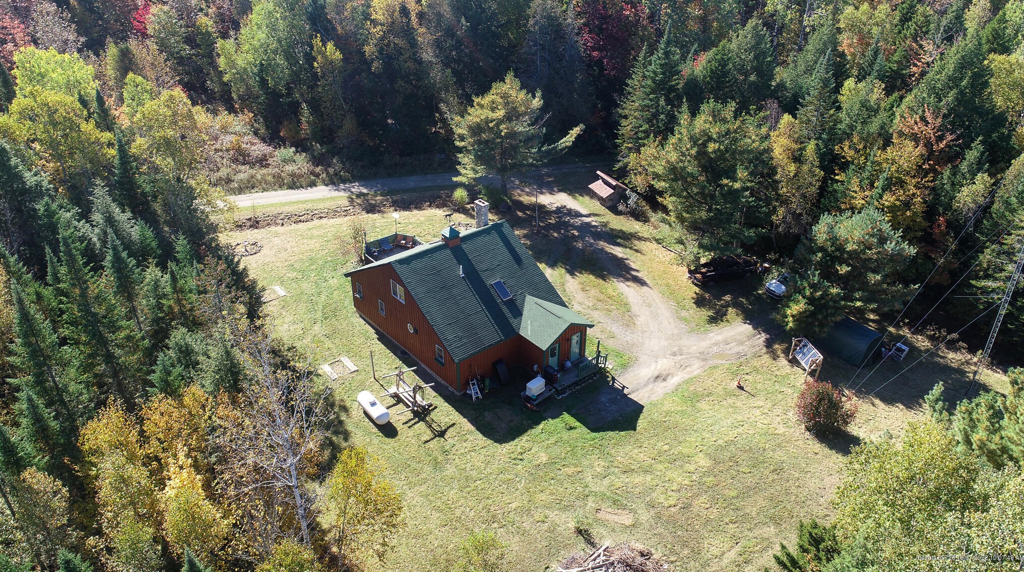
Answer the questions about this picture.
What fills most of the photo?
trees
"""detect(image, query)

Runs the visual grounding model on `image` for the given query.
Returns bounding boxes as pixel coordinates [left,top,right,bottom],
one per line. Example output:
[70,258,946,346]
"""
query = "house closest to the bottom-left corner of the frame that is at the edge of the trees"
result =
[343,199,612,397]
